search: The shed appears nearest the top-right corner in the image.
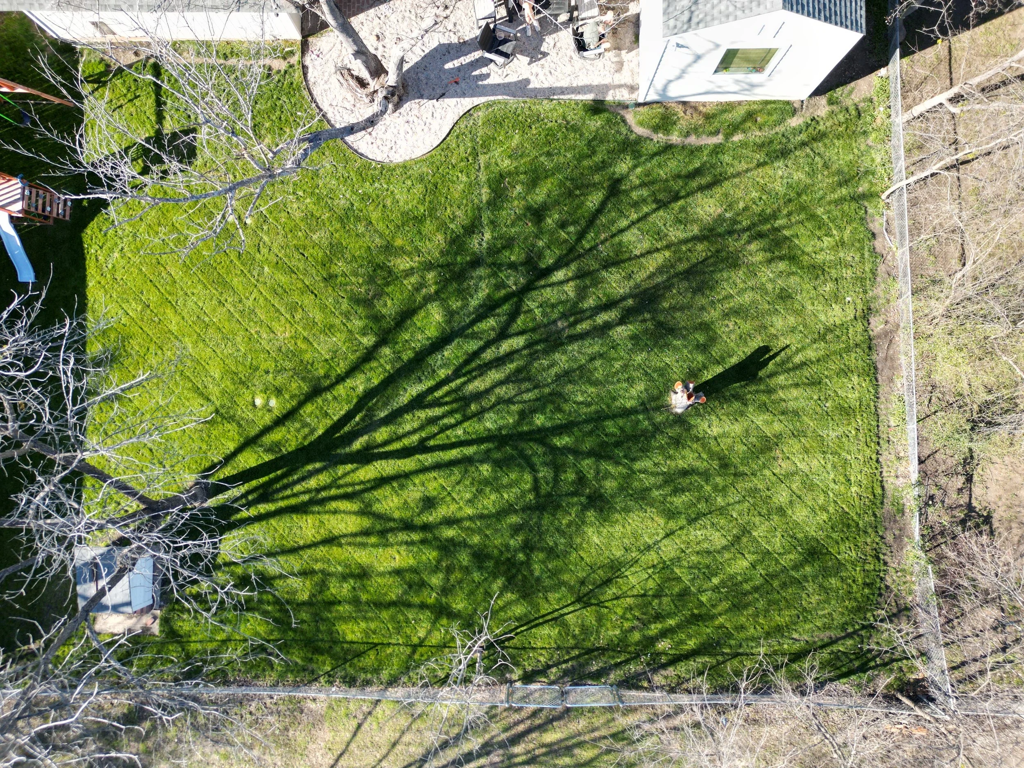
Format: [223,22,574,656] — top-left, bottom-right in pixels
[637,0,874,103]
